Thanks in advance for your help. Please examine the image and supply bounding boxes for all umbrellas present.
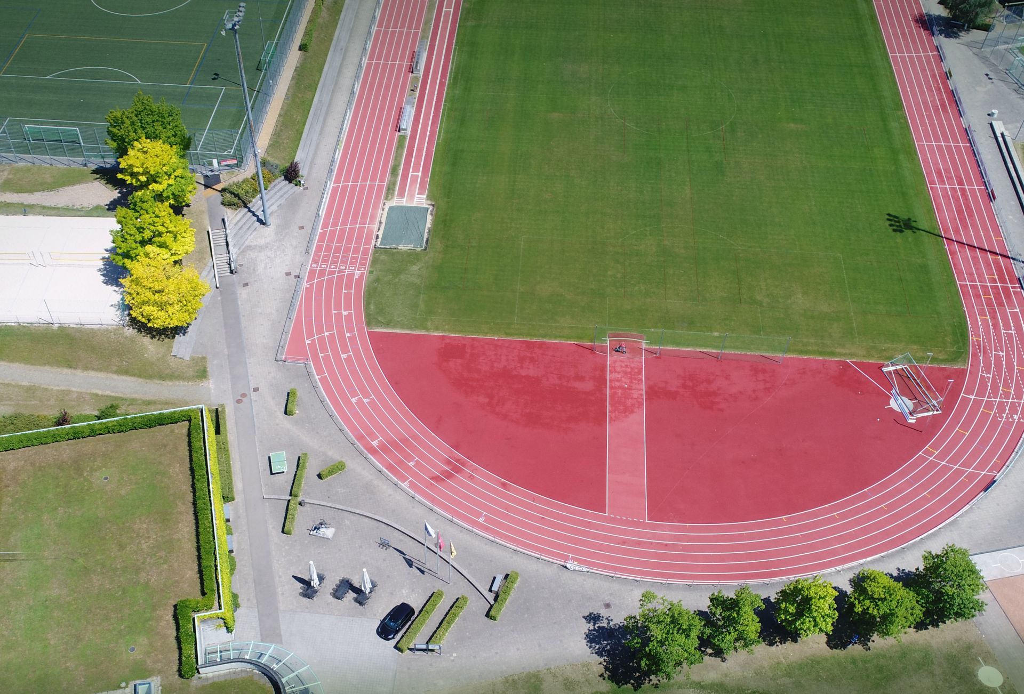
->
[307,561,319,591]
[360,569,373,599]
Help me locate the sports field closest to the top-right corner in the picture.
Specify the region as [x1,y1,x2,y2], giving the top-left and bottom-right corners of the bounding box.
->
[365,0,970,368]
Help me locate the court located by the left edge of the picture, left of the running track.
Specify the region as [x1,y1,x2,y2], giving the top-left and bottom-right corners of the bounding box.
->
[0,215,127,326]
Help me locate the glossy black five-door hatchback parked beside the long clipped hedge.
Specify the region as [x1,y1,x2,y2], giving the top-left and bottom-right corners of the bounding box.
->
[377,600,416,642]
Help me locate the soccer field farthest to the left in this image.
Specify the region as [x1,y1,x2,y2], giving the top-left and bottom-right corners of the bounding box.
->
[0,0,307,174]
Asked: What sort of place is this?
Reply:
sports ground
